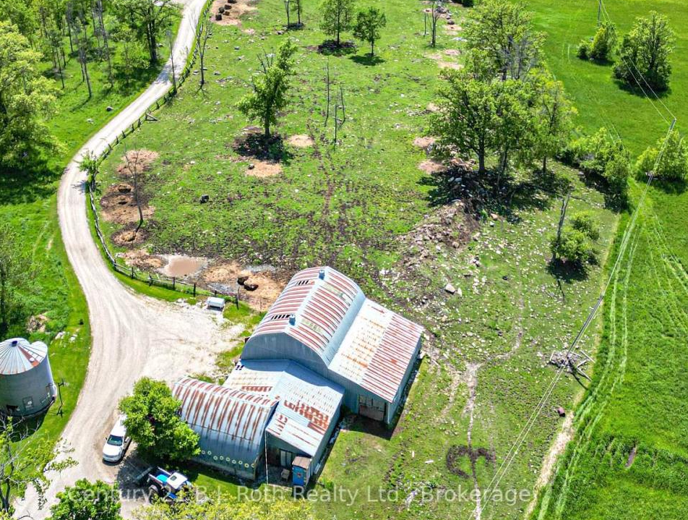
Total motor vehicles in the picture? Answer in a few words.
2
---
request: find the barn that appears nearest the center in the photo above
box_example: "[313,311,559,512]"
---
[240,265,423,426]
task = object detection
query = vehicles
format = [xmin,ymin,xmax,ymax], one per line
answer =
[140,468,198,511]
[104,416,133,457]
